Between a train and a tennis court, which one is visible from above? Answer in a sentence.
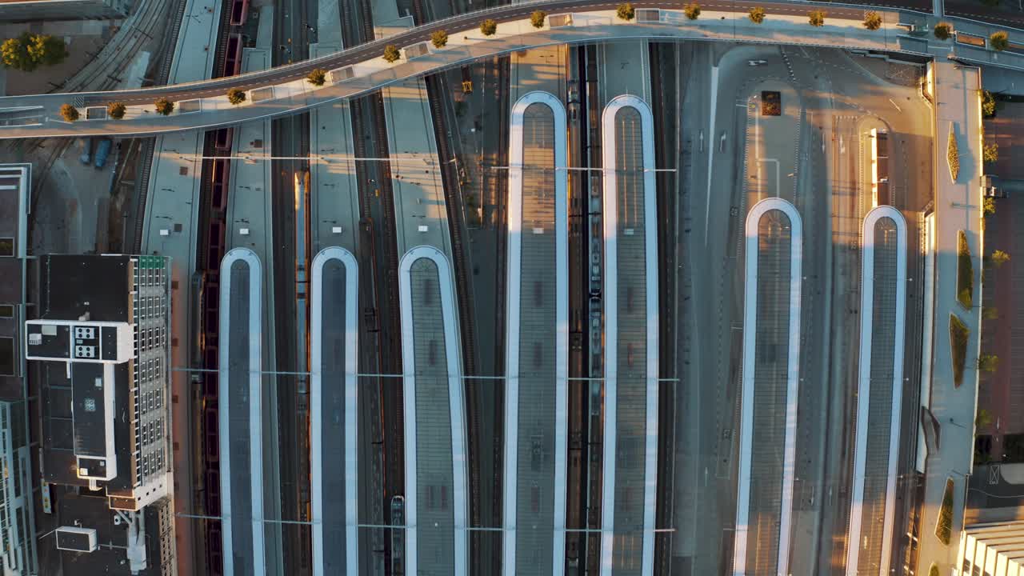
Visible in the photo is a train.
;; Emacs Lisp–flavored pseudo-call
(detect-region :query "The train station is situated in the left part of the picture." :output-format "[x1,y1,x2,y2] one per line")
[5,0,673,576]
